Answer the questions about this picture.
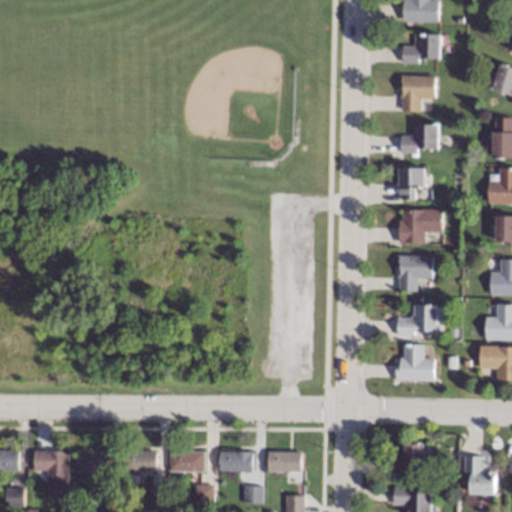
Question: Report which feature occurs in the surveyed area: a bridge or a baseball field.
baseball field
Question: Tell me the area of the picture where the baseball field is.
top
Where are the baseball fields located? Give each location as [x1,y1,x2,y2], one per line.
[186,46,284,150]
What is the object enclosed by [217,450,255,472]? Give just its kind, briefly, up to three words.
house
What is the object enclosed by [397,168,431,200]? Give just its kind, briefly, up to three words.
house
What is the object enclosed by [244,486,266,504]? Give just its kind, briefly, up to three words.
building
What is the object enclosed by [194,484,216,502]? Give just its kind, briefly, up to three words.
building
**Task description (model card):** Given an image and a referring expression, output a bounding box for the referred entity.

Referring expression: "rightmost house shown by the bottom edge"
[466,456,496,497]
